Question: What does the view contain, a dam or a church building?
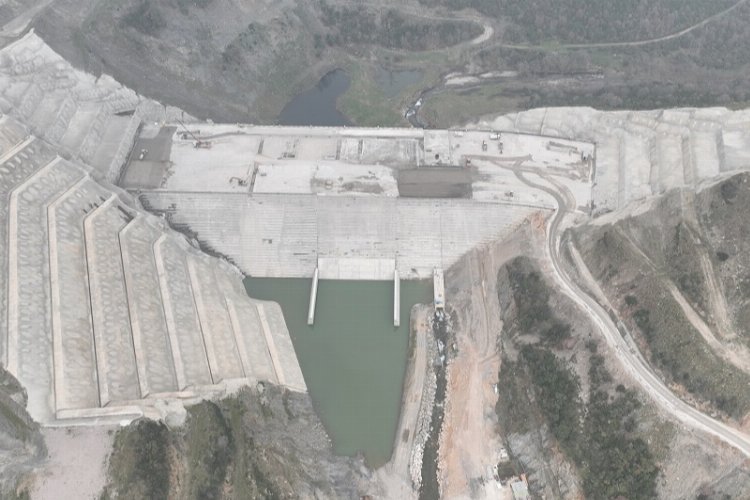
dam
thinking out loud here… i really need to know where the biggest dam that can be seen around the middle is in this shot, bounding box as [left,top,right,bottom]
[119,119,595,329]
